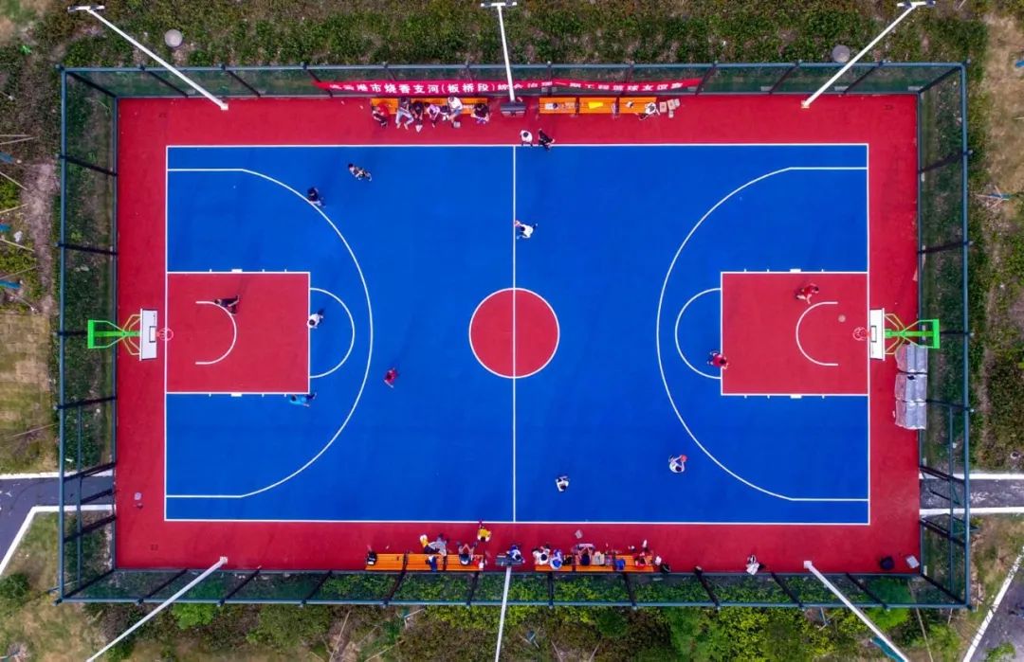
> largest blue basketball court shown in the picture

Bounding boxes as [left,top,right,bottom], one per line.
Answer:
[114,93,921,575]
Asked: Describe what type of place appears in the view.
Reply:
sports ground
